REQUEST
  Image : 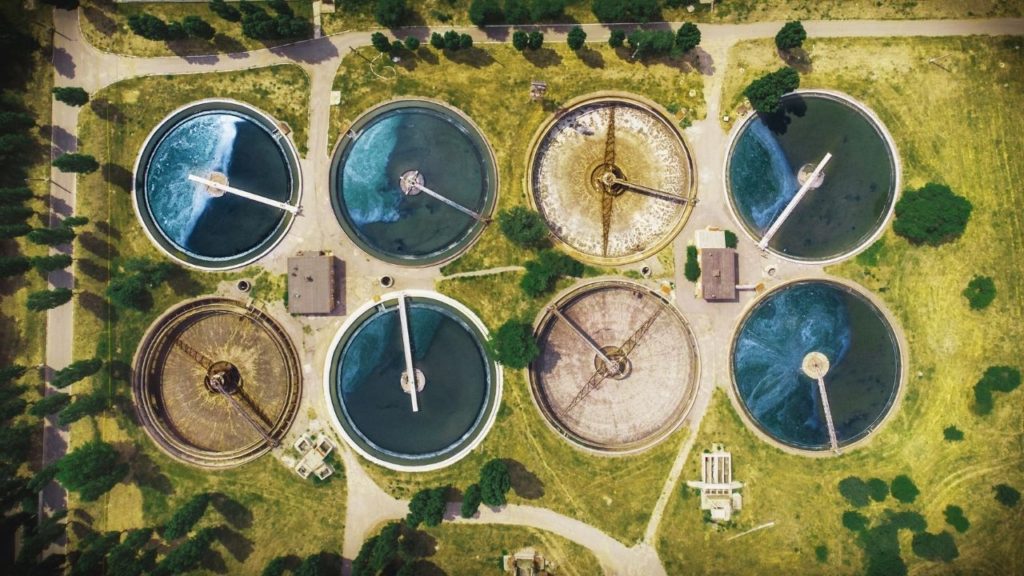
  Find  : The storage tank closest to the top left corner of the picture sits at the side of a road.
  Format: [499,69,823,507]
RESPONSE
[132,99,304,270]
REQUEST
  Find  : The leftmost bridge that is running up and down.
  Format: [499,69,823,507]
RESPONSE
[397,293,420,413]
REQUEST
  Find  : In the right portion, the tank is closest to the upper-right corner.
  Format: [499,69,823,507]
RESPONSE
[722,88,900,265]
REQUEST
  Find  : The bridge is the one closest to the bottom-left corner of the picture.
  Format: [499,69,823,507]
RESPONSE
[214,382,279,449]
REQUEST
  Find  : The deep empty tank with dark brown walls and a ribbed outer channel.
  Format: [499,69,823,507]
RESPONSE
[132,296,304,468]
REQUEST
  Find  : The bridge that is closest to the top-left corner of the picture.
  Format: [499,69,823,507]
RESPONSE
[190,173,301,216]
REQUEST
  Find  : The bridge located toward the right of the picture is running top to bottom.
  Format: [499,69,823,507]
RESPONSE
[818,370,842,453]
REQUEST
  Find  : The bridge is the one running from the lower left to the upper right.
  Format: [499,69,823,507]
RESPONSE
[757,152,832,250]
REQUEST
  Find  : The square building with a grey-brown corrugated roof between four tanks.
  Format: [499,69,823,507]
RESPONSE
[288,251,335,313]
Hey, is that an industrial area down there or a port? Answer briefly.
industrial area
